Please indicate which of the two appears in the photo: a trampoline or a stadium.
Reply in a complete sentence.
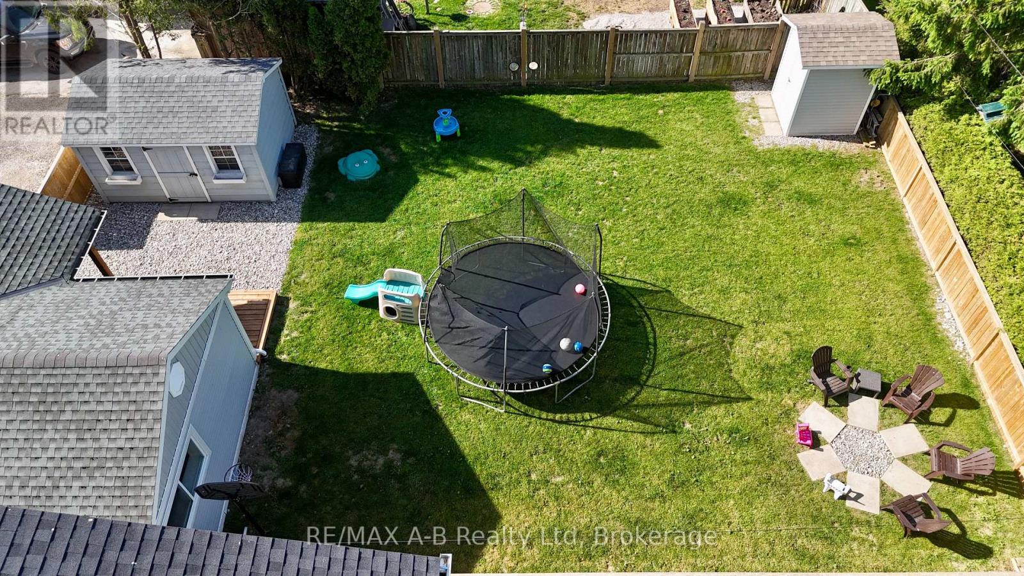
This aerial view contains a trampoline.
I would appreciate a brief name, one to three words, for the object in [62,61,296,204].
shed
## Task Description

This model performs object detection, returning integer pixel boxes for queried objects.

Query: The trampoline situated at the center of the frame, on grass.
[417,184,611,413]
